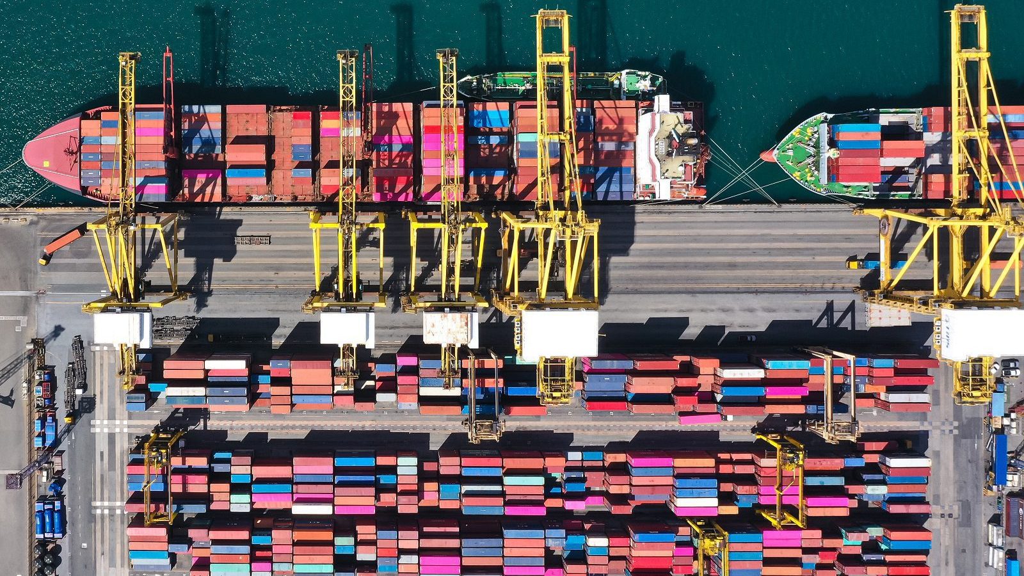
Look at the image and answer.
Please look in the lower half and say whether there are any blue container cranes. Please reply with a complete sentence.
No, no blue container crane is visible in the lower half.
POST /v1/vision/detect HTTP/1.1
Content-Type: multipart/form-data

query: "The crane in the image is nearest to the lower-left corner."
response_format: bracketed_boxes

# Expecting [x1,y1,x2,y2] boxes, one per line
[143,428,186,525]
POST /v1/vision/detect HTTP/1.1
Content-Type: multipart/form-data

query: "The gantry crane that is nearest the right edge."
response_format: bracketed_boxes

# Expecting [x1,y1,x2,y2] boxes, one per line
[853,2,1024,417]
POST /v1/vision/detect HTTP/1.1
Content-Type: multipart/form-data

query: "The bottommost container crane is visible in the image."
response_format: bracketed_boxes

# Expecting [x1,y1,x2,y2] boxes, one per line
[678,514,726,576]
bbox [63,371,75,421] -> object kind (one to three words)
vehicle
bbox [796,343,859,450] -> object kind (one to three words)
container crane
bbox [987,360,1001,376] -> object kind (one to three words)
car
